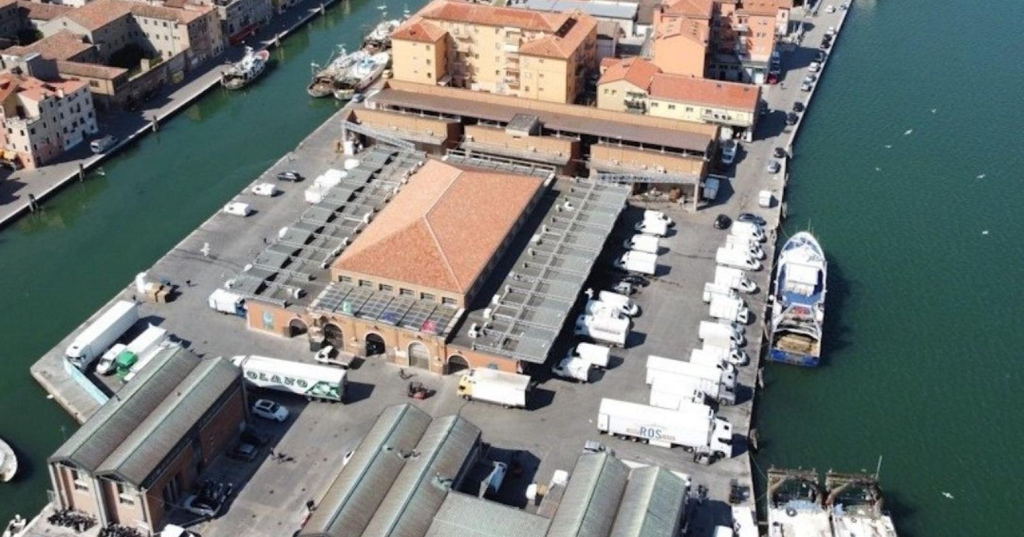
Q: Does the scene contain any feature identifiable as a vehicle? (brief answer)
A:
Yes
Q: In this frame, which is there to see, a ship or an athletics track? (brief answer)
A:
ship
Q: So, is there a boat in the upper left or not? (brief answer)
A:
Yes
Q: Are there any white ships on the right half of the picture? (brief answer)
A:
Yes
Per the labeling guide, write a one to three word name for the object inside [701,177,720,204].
vehicle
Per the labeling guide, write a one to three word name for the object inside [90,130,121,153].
vehicle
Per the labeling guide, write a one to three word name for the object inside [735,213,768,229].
car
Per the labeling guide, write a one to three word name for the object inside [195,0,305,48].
building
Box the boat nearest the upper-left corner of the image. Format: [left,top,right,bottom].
[229,39,274,95]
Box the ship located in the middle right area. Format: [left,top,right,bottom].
[769,230,823,372]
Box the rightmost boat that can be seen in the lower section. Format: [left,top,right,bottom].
[821,444,885,537]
